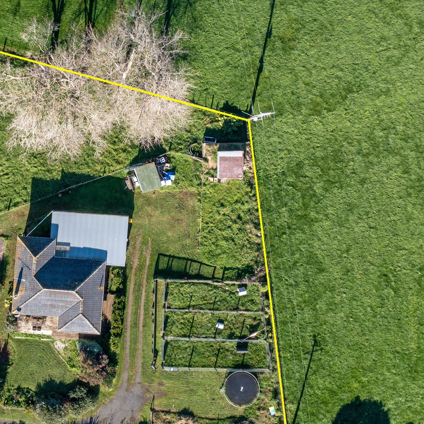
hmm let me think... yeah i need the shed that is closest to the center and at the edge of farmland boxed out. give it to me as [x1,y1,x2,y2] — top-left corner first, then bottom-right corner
[215,151,244,179]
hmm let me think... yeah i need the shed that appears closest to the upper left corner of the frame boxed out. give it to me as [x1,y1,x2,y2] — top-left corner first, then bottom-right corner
[133,162,162,193]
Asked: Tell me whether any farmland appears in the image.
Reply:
Yes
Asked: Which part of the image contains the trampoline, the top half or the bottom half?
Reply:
bottom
